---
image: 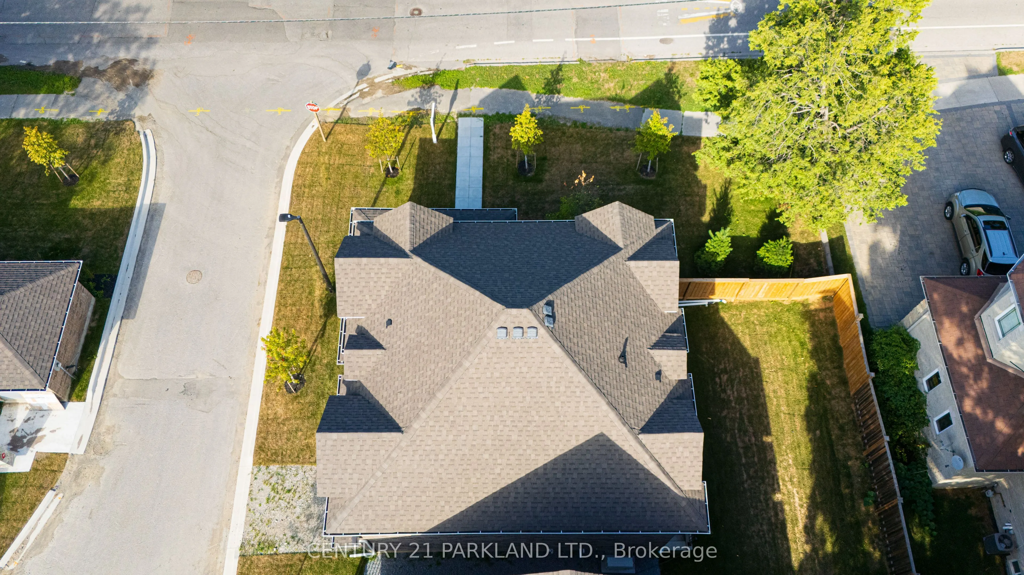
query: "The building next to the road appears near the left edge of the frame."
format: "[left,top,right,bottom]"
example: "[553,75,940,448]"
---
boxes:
[0,260,98,403]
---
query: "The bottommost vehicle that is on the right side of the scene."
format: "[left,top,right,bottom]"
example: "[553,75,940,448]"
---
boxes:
[944,192,1018,275]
